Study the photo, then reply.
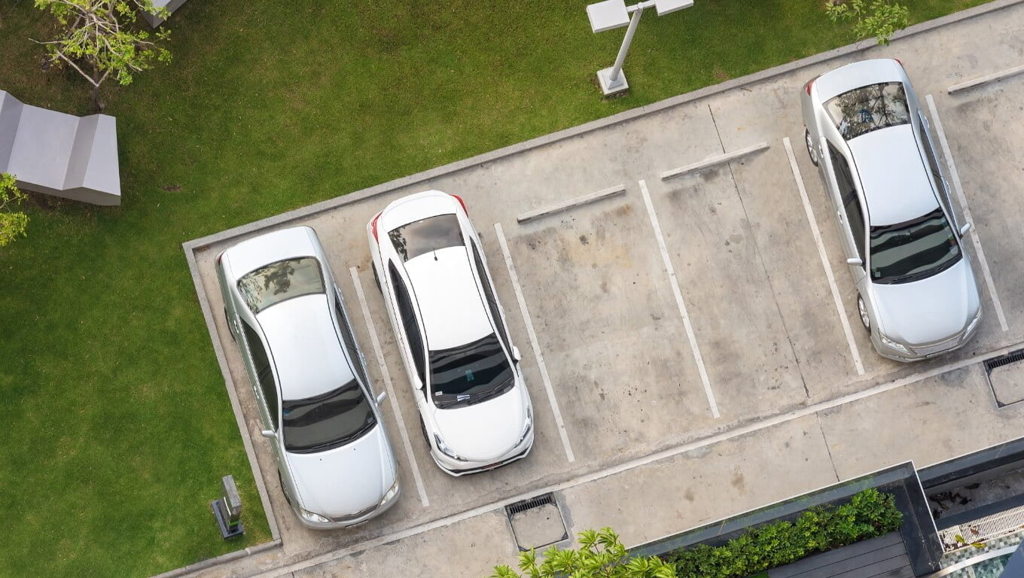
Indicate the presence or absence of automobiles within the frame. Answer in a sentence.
Yes, looking at the shot, I can spot an automobile.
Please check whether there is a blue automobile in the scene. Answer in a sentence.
No, no blue automobile can be seen from above.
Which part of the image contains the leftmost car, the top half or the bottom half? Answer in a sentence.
The bottom half of the photo is where the leftmost car is.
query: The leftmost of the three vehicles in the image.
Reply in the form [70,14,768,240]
[219,224,398,532]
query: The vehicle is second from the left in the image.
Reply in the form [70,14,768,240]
[370,191,534,477]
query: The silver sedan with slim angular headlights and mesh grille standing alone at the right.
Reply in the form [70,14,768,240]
[802,55,982,365]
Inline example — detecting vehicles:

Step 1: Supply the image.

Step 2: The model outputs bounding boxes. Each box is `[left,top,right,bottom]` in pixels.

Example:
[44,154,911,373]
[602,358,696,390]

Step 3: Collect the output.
[802,55,982,365]
[370,191,534,477]
[219,224,398,532]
